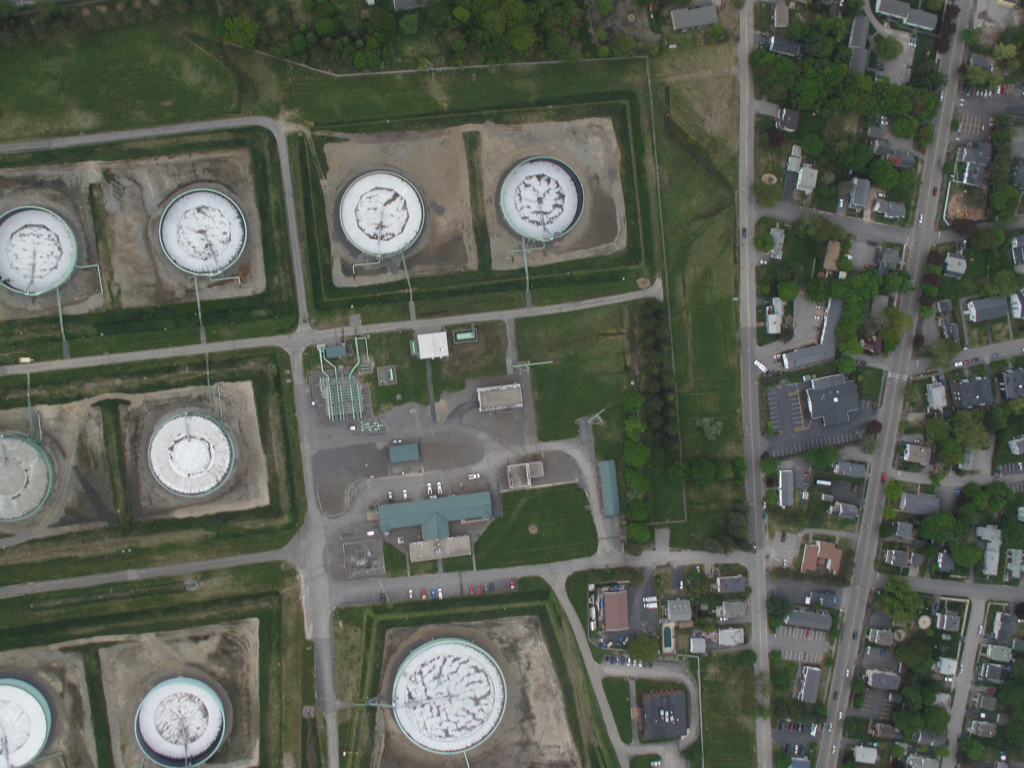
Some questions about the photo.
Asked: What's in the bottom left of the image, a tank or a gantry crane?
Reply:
tank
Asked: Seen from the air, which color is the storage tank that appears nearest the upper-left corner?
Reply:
white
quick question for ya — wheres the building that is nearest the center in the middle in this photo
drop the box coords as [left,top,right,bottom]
[476,382,523,411]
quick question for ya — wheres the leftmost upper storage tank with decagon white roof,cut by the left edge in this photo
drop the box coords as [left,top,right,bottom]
[0,205,87,298]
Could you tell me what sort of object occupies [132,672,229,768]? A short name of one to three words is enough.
storage tank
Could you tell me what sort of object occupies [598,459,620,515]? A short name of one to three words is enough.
shed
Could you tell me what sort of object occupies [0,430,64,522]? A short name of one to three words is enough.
storage tank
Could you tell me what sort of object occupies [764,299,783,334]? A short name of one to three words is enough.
house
